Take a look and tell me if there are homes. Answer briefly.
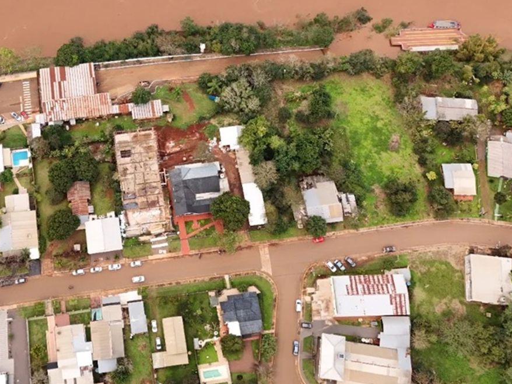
Yes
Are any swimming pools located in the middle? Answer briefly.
No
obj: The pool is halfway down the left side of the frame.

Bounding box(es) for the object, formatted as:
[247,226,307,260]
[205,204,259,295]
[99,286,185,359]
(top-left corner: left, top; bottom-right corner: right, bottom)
[11,149,31,167]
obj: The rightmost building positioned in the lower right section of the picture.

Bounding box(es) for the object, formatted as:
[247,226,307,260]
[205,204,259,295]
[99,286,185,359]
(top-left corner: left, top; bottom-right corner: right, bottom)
[458,254,512,308]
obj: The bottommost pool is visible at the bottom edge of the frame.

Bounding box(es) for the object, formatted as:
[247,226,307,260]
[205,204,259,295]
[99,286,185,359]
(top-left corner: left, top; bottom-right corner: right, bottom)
[201,365,231,383]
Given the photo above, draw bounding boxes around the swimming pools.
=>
[11,149,31,167]
[201,365,231,383]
